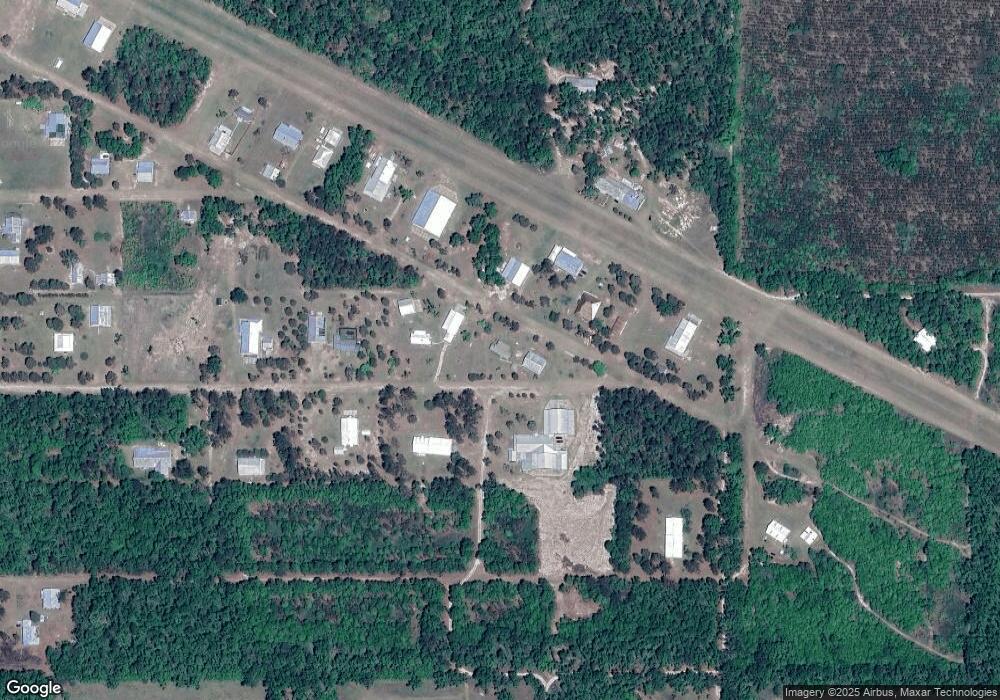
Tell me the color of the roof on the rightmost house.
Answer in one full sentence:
The color of the roof on the rightmost house is white.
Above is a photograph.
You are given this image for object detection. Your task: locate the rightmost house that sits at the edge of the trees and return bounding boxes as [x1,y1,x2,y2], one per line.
[913,328,938,351]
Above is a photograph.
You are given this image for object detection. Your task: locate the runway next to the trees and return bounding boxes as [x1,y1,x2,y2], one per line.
[122,0,1000,448]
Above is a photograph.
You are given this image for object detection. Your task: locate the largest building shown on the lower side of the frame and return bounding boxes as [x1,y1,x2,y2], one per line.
[509,436,567,470]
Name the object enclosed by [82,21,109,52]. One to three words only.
hangar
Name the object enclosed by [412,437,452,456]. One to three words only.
house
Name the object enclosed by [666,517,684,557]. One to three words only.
hangar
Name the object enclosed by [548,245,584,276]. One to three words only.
house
